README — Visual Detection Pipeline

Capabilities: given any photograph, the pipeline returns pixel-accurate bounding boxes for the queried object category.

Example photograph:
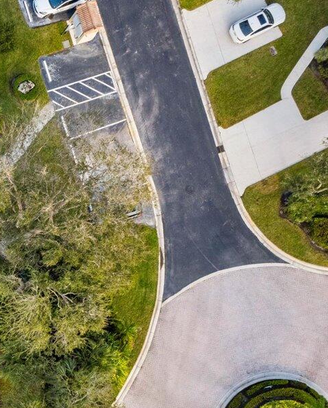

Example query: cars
[227,4,286,44]
[31,0,82,18]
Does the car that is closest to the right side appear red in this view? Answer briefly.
No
